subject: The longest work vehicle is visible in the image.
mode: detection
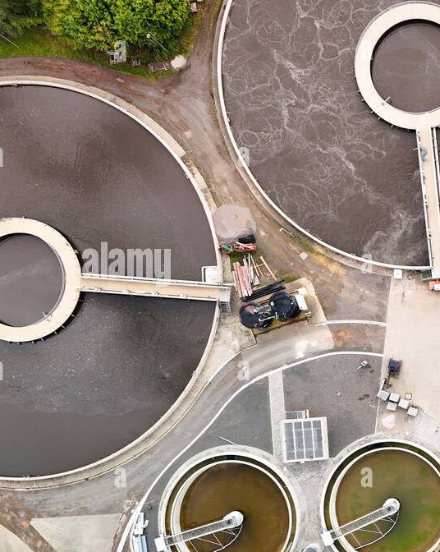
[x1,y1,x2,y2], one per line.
[387,360,400,386]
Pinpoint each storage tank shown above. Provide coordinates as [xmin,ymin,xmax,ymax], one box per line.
[0,75,233,489]
[321,440,440,552]
[238,299,270,330]
[265,290,300,322]
[164,452,302,552]
[212,0,440,279]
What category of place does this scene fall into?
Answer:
industrial area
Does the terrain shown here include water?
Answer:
Yes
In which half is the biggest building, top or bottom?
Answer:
bottom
